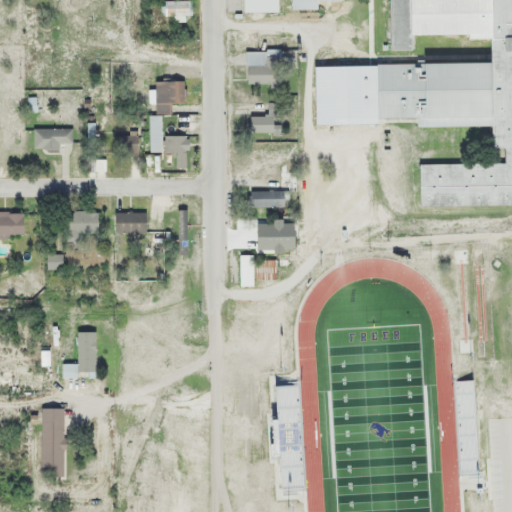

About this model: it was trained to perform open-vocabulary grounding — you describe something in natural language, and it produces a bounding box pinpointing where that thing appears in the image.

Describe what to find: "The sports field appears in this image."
[316,278,444,512]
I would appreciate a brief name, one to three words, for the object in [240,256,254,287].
shed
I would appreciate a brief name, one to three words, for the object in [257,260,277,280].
barn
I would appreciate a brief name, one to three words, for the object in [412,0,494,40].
building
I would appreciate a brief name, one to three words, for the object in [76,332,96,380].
house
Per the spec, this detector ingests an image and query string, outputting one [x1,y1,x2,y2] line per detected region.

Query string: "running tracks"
[299,258,460,512]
